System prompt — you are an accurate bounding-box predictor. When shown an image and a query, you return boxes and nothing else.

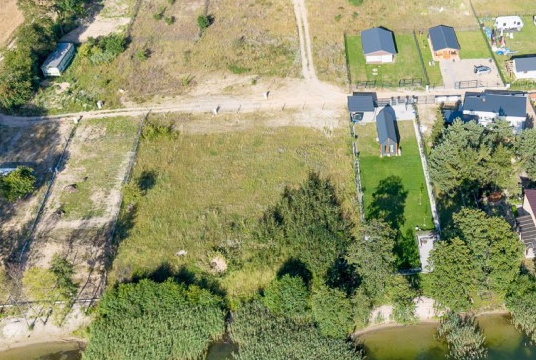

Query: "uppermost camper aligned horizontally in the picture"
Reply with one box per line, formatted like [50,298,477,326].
[490,17,524,31]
